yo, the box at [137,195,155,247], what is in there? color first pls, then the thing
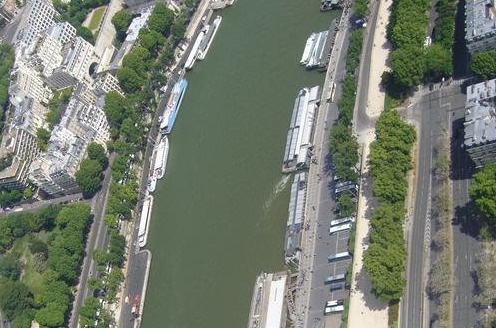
white ship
